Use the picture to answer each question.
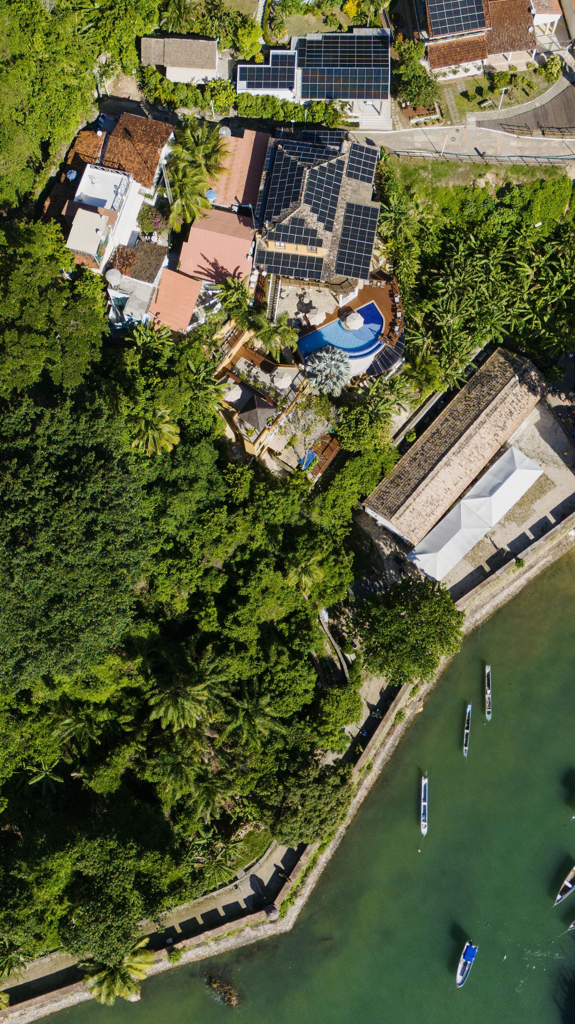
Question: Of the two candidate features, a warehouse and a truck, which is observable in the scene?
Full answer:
This aerial view contains a warehouse.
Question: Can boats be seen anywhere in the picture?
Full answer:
Yes, this view includes a boat.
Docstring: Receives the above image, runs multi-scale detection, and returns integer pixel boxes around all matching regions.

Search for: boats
[554,857,575,906]
[454,940,480,988]
[567,916,575,931]
[464,705,472,757]
[486,666,492,721]
[421,770,428,836]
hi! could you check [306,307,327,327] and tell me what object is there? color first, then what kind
white umbrella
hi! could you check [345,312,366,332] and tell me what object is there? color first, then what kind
white umbrella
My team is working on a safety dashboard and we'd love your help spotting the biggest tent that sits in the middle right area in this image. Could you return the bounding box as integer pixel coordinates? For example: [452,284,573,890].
[405,446,543,578]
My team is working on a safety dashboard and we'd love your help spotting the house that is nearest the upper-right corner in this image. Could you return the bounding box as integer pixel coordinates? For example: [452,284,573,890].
[420,0,575,79]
